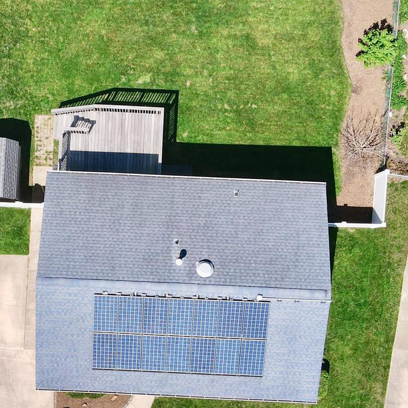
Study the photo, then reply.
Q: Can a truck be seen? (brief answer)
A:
No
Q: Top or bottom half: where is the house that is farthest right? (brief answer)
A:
bottom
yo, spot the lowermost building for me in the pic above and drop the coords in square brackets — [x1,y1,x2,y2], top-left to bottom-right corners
[36,170,331,404]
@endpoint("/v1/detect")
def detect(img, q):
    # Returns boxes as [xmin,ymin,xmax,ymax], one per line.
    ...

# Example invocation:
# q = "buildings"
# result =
[36,170,331,404]
[0,136,21,200]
